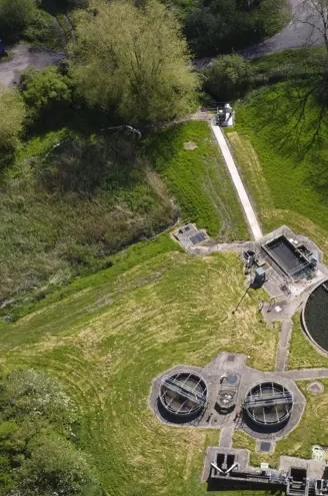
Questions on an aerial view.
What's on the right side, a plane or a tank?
tank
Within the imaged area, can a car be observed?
No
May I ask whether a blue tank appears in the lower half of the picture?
No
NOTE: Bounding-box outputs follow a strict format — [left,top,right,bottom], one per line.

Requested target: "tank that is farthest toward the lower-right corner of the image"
[243,380,294,430]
